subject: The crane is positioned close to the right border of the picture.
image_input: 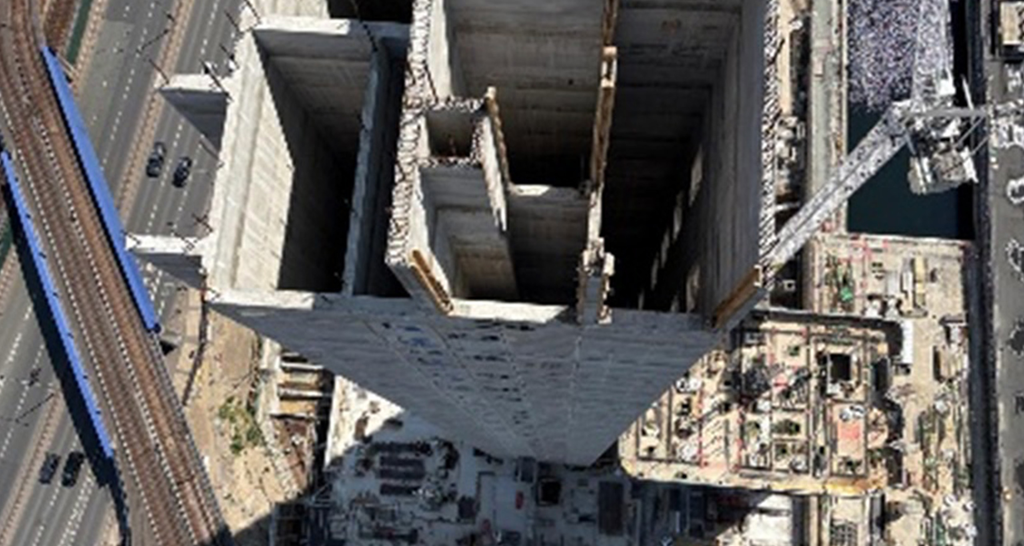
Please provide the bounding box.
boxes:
[780,0,1001,273]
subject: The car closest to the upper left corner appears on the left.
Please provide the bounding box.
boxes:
[142,141,165,175]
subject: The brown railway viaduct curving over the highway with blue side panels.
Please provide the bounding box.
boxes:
[0,0,236,546]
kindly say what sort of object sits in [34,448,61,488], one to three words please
car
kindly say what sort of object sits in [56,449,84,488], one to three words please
car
